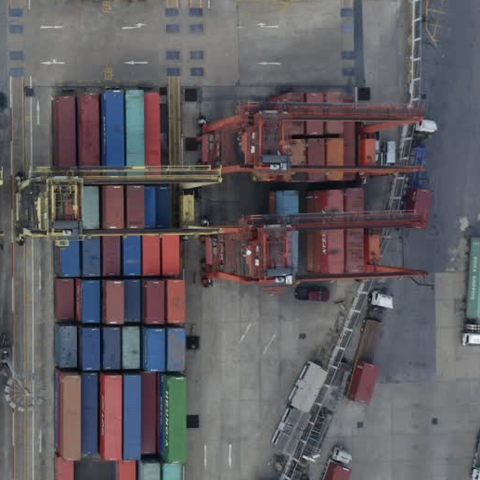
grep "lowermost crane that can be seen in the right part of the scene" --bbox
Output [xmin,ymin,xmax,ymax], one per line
[201,203,434,289]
